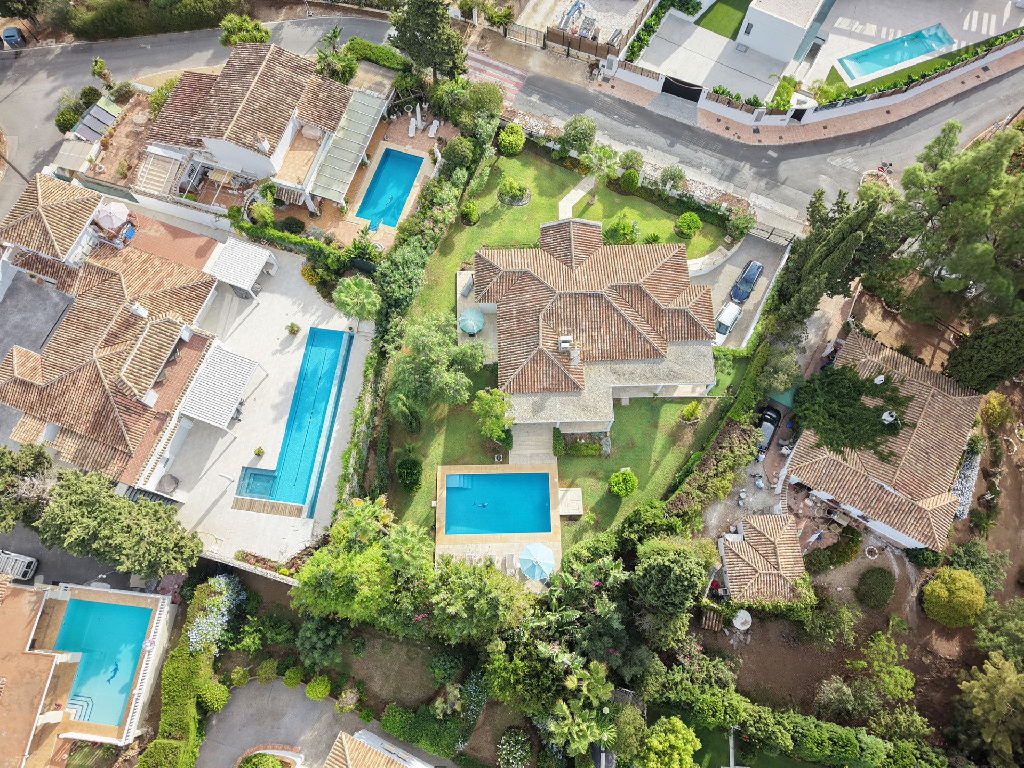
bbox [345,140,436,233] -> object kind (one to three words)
swimming pool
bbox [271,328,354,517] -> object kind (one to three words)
swimming pool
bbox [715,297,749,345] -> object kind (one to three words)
car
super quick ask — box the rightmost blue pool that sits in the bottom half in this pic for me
[436,463,561,545]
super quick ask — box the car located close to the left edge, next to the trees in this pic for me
[0,547,38,576]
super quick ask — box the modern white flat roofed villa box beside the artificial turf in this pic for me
[737,0,821,66]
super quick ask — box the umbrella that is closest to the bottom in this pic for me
[519,544,555,580]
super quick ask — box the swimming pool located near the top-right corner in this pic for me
[829,20,962,88]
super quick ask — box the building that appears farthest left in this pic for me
[0,576,77,768]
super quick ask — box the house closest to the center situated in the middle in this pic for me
[473,214,717,434]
